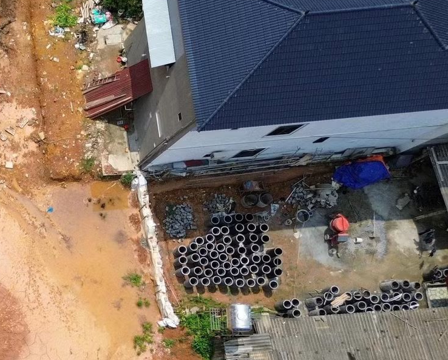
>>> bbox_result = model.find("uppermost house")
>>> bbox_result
[123,0,448,171]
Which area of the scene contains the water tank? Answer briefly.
bottom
